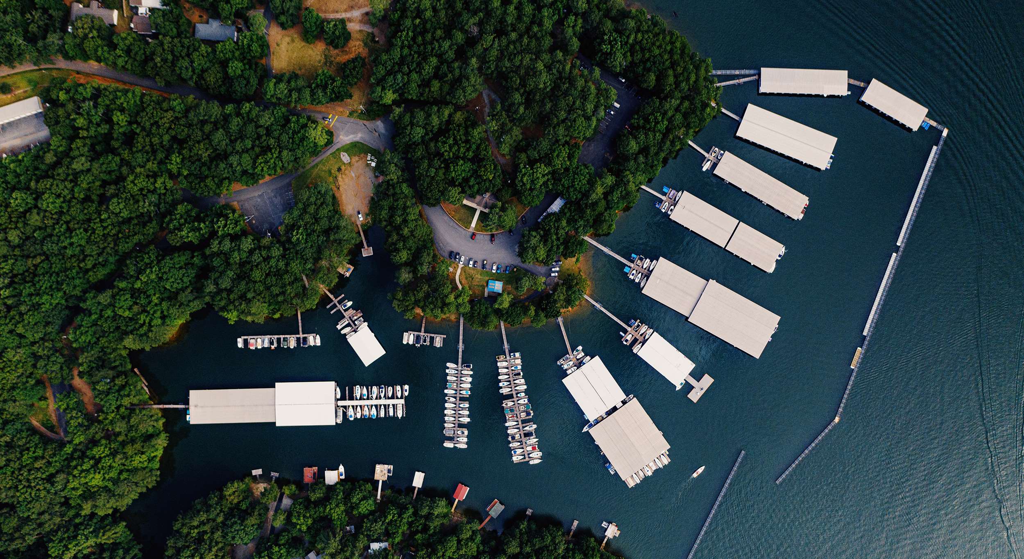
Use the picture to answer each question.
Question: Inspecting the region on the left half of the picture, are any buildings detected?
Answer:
Yes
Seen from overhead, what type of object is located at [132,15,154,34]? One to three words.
house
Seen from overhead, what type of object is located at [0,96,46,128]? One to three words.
building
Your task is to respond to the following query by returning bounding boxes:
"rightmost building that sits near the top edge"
[194,18,238,42]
